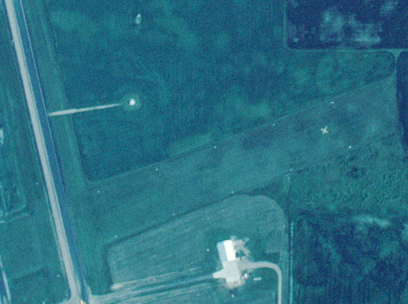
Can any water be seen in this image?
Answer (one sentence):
No, water can't be seen anywhere here.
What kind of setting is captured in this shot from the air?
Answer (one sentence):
What you see here is farmland.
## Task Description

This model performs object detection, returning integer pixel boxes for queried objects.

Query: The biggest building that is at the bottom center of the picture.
[217,241,236,263]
